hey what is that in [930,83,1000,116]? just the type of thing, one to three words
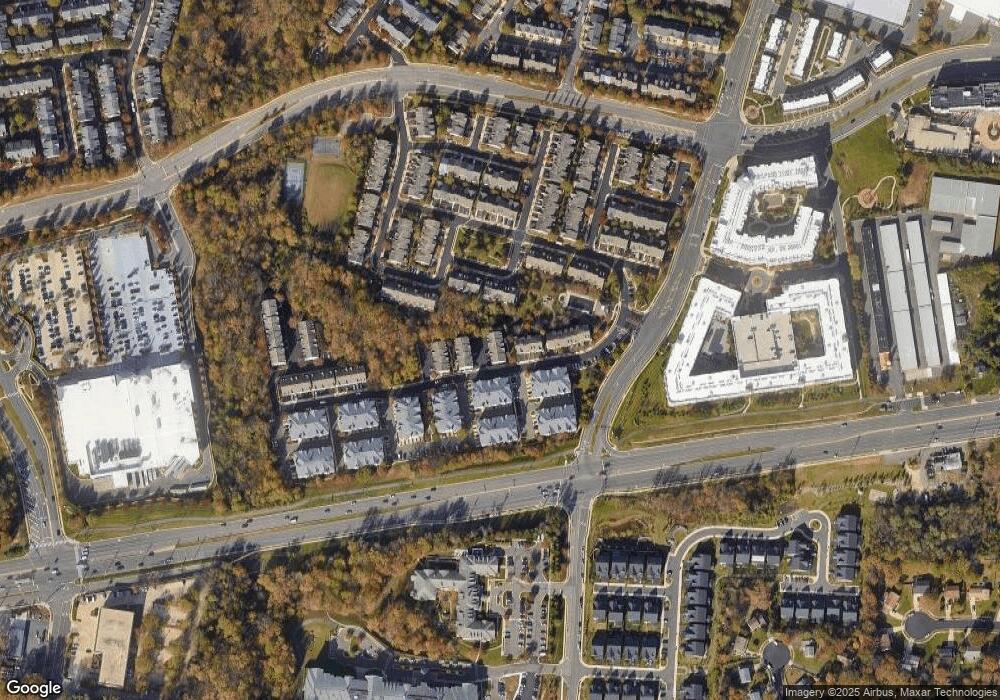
building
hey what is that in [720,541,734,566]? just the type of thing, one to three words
house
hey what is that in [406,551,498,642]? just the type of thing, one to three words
building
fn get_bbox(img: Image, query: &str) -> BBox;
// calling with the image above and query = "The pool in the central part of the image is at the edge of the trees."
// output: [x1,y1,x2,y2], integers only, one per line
[568,295,596,313]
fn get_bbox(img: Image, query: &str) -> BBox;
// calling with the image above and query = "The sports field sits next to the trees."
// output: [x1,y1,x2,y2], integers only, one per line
[305,162,358,228]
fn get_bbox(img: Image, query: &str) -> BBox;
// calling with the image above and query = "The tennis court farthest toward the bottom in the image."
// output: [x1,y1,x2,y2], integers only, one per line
[284,159,305,200]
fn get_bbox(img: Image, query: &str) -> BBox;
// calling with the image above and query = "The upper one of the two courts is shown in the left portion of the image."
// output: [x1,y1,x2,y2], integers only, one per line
[312,136,341,156]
